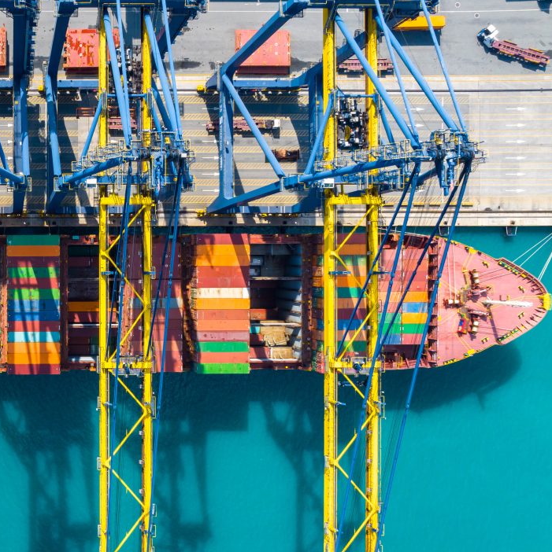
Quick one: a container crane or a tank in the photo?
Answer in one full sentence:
The one in the frame is a container crane.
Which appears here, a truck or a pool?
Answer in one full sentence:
The one in the frame is a truck.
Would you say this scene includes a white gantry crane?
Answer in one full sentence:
No, there appears to be no white gantry crane in this shot.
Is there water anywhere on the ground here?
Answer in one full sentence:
Yes, there's water in this view.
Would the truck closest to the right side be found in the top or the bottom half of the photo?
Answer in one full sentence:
It is in the top half that the truck closest to the right side appears.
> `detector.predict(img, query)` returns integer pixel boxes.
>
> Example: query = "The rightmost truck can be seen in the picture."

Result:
[481,26,550,65]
